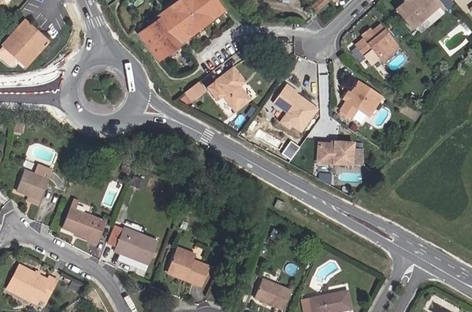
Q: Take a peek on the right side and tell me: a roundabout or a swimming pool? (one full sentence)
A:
What appears on the right side is a swimming pool.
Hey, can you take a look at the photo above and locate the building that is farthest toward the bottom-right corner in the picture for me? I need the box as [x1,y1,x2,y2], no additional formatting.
[301,289,354,312]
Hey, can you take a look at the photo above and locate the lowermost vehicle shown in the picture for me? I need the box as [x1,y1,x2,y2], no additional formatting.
[122,296,136,312]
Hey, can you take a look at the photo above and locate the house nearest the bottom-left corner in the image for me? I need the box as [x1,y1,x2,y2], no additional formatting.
[4,264,57,308]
